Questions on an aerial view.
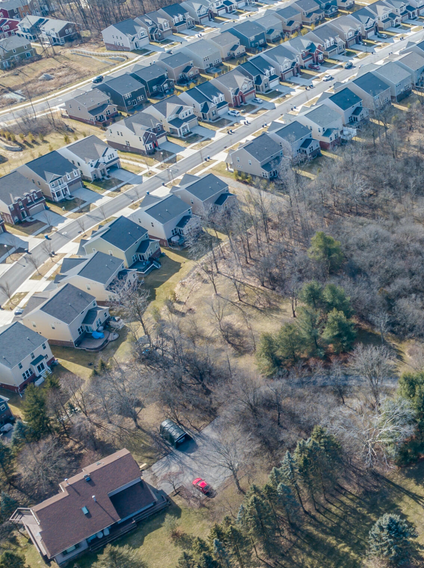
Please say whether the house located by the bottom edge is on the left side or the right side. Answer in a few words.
left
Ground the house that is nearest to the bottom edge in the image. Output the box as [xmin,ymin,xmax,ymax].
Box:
[4,449,169,568]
